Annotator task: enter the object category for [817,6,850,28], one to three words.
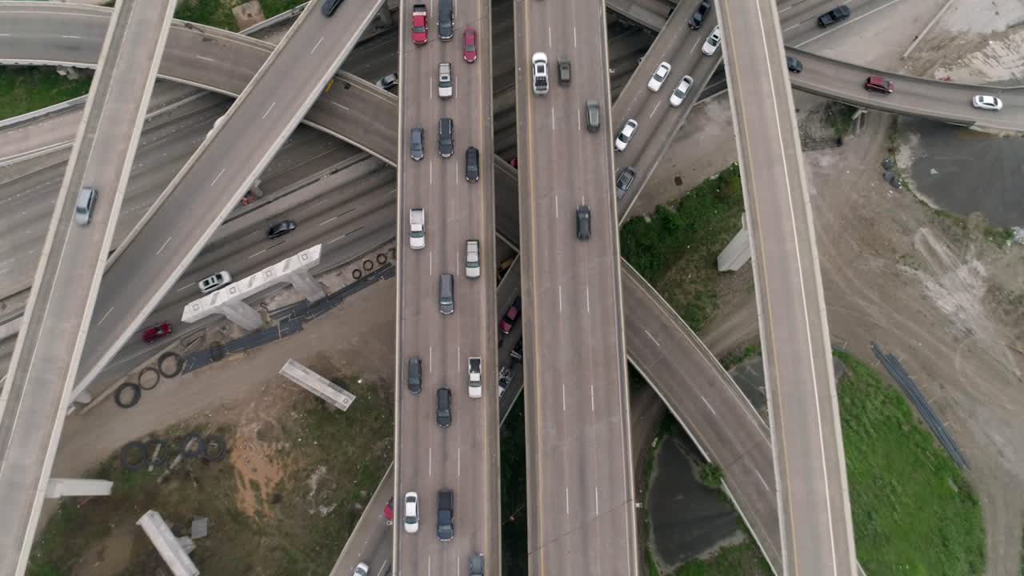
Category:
truck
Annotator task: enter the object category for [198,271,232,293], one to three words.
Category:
car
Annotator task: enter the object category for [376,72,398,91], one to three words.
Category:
car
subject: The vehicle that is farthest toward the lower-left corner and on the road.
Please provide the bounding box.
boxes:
[142,321,174,342]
